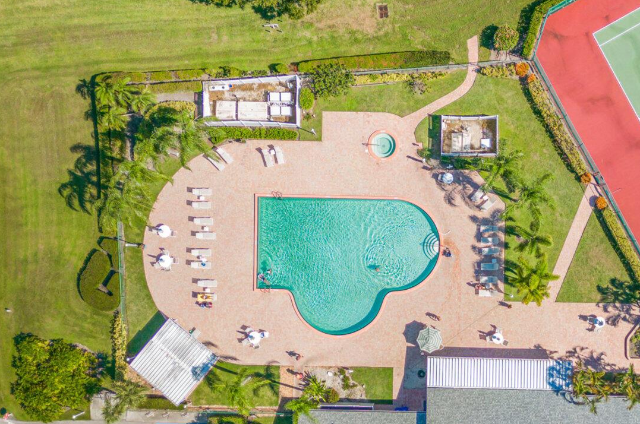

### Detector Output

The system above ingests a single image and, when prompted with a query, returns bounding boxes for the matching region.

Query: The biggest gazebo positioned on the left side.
[128,318,220,406]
